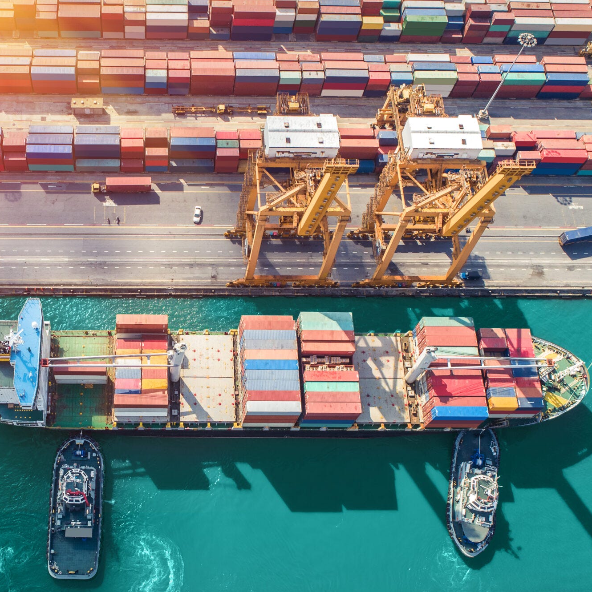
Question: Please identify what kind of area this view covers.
port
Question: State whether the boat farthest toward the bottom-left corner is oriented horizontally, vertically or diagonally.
vertically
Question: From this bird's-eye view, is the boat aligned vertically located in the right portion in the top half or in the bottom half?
bottom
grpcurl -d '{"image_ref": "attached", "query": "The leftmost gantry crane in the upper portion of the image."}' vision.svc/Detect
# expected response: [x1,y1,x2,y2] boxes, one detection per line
[221,80,364,288]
